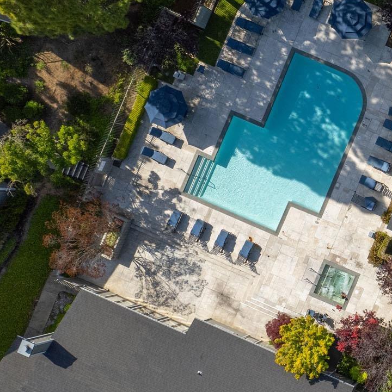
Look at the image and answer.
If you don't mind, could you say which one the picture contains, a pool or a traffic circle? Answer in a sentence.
Visible in the photo is a pool.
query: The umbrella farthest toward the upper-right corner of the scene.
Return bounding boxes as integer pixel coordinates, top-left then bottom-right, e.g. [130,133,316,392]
[331,0,373,40]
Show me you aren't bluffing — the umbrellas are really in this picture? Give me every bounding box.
[246,0,287,19]
[331,0,373,40]
[146,86,188,127]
